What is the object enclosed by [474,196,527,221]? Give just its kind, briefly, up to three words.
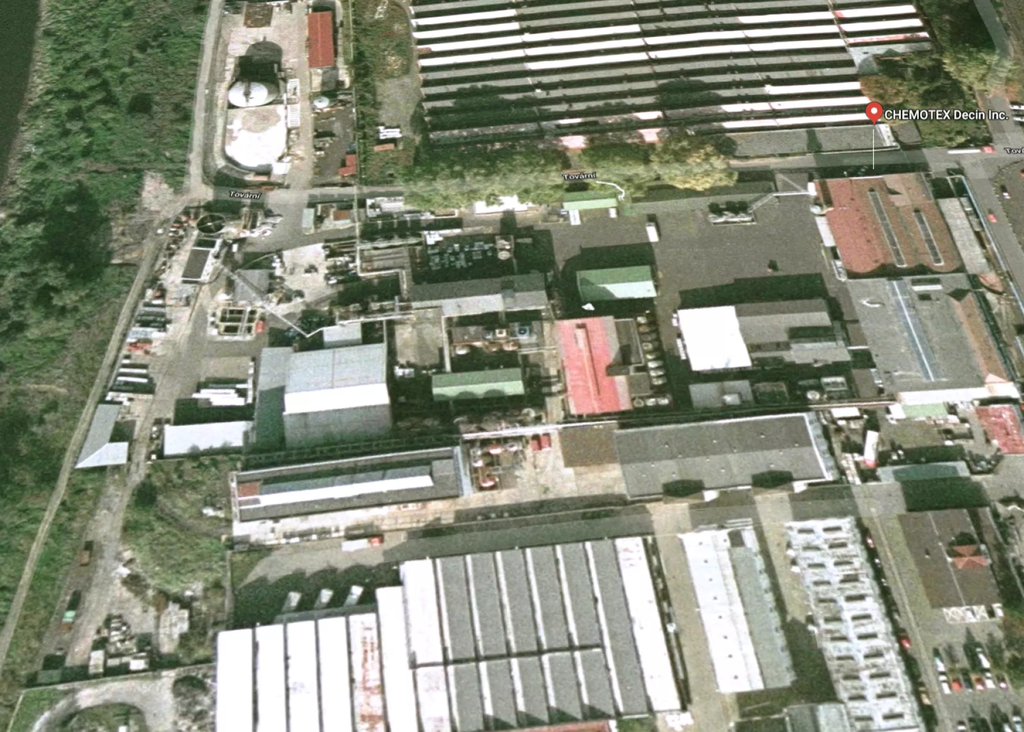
building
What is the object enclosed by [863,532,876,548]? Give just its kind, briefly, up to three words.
vehicle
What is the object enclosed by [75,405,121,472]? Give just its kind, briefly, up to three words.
shed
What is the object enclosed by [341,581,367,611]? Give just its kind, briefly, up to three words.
truck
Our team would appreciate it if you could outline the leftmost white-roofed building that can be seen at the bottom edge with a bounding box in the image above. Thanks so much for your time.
[219,608,390,732]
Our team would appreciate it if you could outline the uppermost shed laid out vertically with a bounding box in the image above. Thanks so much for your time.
[308,11,334,76]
